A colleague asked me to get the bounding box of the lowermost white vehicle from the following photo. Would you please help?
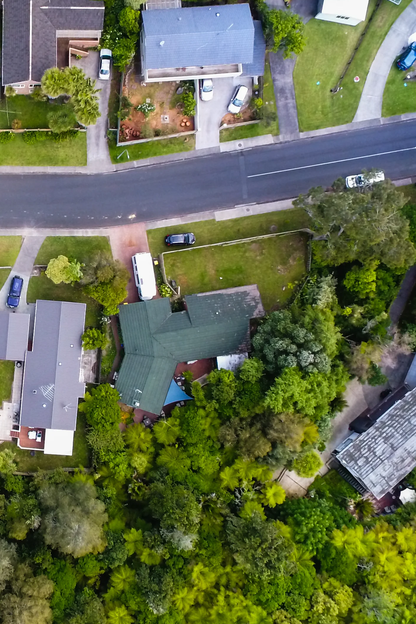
[135,252,155,299]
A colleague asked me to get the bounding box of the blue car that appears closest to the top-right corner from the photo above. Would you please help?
[399,42,416,69]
